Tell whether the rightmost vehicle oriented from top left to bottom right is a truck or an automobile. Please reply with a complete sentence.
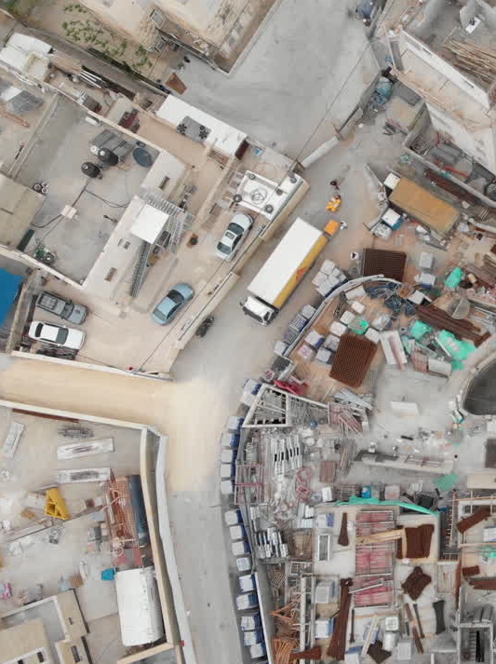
The rightmost vehicle oriented from top left to bottom right in the image is a truck.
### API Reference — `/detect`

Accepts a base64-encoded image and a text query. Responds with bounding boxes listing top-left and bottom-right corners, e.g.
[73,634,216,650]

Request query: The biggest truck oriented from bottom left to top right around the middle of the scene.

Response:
[243,218,335,322]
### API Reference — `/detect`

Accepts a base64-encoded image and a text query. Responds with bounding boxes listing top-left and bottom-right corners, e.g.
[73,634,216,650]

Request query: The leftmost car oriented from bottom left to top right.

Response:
[150,283,197,326]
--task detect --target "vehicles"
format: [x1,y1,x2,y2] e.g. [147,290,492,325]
[27,320,88,351]
[383,168,463,236]
[217,212,253,260]
[199,317,213,335]
[30,291,91,325]
[243,218,335,322]
[150,283,197,326]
